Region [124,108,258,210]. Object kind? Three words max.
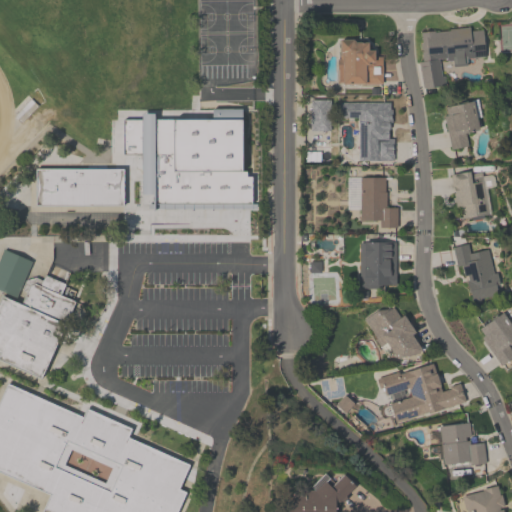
building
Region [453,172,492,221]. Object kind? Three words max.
house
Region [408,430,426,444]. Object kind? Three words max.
swimming pool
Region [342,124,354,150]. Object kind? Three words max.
swimming pool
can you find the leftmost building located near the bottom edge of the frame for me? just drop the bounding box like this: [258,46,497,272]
[0,383,192,512]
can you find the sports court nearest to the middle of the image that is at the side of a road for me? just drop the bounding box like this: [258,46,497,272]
[310,272,341,309]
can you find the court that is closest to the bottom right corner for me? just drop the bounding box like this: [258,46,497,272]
[320,376,347,402]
